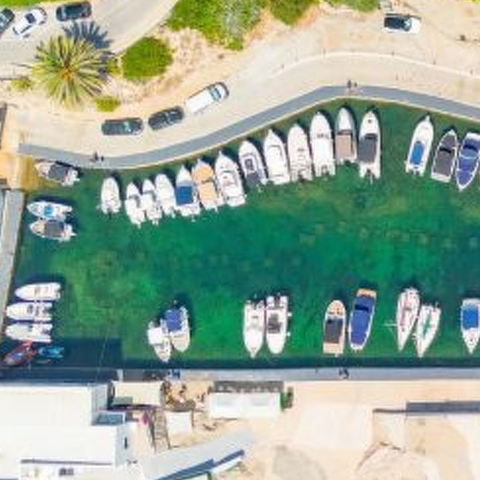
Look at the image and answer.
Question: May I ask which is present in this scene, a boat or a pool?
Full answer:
Visible in the photo is a boat.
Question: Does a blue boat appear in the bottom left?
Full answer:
Yes, looking in the bottom left, one can make out a blue boat.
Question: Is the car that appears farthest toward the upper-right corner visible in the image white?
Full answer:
Yes, the car that appears farthest toward the upper-right corner appears white.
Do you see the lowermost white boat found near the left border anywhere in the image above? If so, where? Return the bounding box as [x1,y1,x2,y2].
[5,321,60,342]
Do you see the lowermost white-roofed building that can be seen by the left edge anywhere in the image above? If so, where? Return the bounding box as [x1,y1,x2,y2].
[0,378,140,480]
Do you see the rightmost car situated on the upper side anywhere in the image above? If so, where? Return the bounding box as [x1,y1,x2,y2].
[384,14,422,35]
